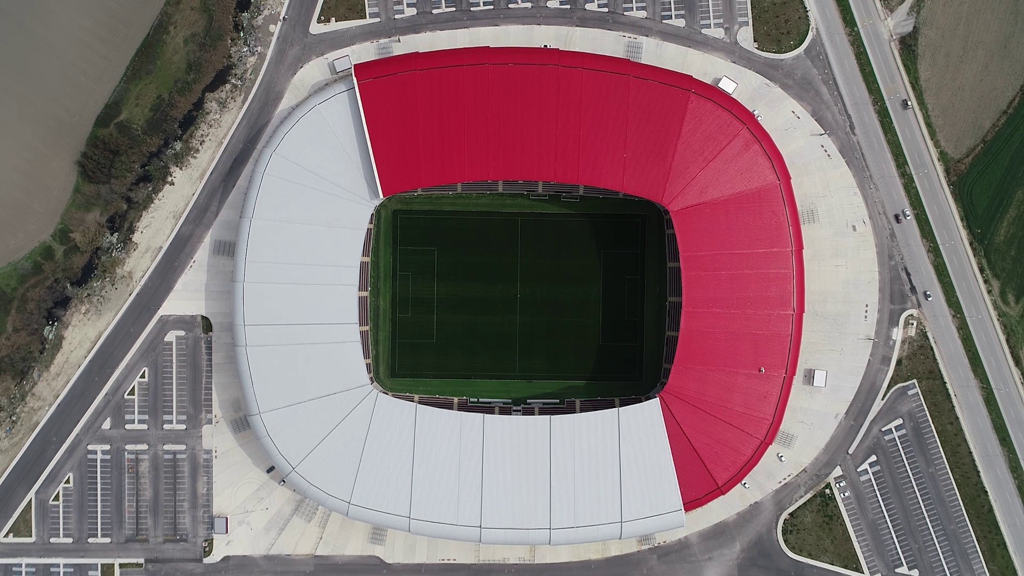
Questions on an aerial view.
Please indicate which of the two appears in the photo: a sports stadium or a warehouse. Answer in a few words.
sports stadium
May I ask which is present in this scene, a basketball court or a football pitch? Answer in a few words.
football pitch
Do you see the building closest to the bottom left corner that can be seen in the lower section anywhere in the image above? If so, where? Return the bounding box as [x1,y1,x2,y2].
[214,515,231,534]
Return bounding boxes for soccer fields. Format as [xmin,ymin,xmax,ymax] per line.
[370,193,667,407]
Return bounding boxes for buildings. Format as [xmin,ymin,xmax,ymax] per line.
[333,55,353,74]
[214,515,231,534]
[810,369,827,387]
[716,76,738,96]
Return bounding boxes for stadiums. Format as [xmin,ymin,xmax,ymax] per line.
[231,45,806,546]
